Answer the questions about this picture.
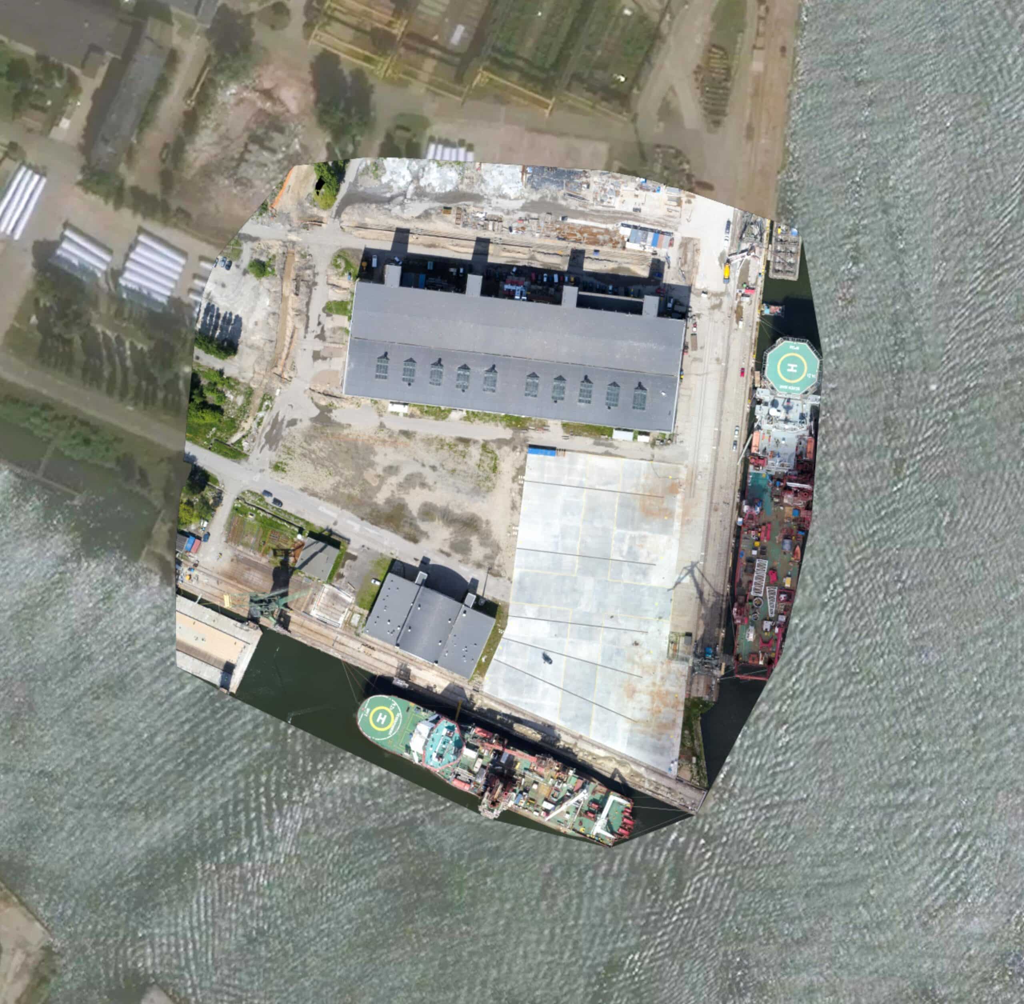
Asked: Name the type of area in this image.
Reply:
port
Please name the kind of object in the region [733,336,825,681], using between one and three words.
ship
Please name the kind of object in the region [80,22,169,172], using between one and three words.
shed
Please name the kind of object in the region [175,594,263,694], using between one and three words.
pier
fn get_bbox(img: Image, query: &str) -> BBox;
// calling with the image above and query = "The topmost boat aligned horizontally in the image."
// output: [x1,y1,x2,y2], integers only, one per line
[761,304,785,317]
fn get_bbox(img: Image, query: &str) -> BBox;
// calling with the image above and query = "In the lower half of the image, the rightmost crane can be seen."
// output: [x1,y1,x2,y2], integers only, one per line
[659,630,720,678]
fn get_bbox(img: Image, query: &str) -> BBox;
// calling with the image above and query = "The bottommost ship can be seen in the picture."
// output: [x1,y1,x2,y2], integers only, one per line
[356,695,635,847]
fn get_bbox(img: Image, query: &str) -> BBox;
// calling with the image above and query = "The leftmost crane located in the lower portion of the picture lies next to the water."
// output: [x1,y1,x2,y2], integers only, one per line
[230,585,334,624]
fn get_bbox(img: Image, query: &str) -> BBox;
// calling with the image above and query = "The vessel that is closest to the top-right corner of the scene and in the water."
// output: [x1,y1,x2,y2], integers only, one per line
[768,220,803,282]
